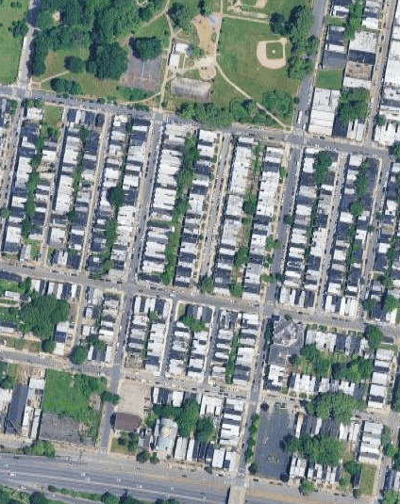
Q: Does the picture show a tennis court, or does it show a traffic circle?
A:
tennis court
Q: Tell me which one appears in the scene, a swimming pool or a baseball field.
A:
baseball field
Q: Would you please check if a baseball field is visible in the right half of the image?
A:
Yes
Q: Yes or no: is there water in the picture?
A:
No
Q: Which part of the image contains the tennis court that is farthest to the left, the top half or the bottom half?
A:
top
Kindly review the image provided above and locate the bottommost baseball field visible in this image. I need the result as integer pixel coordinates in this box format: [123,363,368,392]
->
[257,33,289,68]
